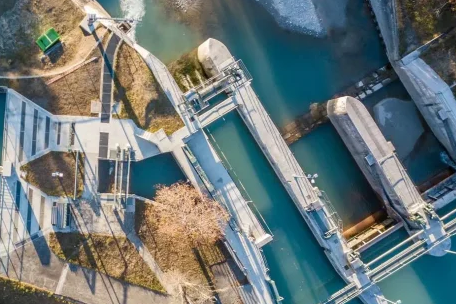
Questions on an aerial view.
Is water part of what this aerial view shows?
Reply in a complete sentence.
Yes, some water is visible.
